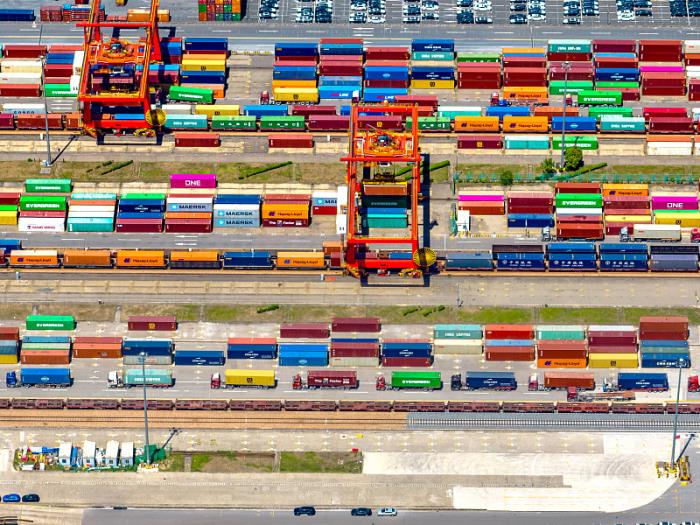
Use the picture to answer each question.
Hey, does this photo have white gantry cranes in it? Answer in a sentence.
No, this view has no white gantry crane in it.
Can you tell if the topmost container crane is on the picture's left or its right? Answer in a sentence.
The topmost container crane appears in the left half of the scene.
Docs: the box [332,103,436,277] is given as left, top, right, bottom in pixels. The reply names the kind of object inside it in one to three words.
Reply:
container crane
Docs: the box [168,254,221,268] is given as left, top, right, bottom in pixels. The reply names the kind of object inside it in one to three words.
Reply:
rail car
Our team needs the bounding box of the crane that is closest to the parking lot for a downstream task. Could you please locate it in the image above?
[62,0,161,137]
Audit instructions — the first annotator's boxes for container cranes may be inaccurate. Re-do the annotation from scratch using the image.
[332,103,436,277]
[62,0,161,137]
